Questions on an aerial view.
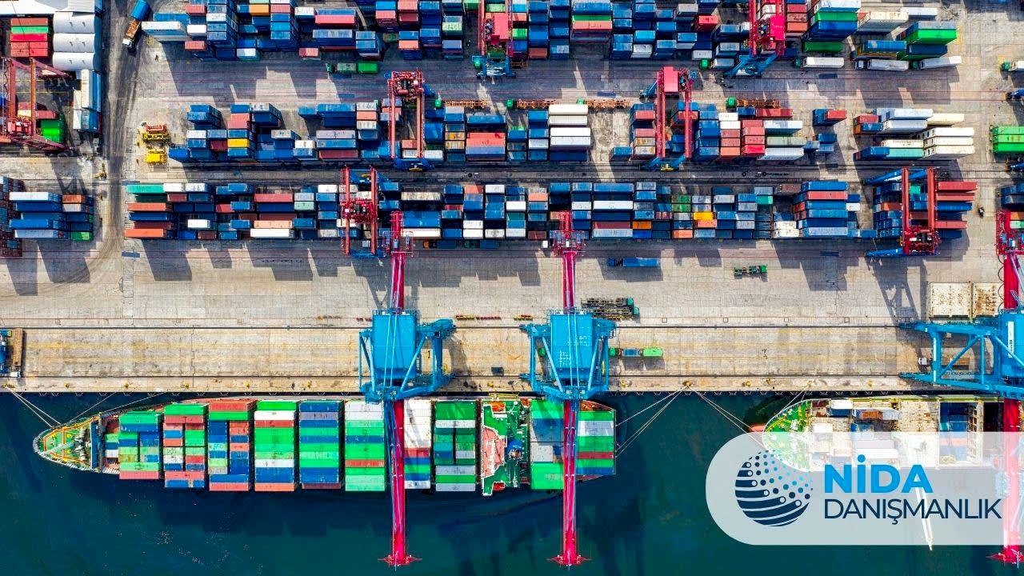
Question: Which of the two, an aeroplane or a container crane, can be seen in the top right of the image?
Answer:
container crane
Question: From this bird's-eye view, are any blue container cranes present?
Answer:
Yes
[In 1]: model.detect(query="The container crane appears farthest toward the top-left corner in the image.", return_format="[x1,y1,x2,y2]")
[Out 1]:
[4,56,77,148]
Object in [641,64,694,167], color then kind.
red container crane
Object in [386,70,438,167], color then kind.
red container crane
